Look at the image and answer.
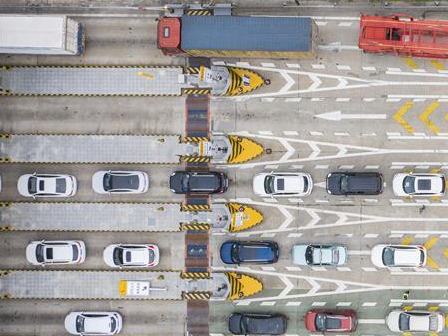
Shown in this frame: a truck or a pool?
truck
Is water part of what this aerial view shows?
No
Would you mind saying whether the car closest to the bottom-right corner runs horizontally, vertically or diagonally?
horizontally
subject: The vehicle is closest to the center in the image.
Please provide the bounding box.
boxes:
[170,168,227,196]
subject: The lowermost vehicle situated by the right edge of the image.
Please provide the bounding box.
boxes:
[387,308,445,335]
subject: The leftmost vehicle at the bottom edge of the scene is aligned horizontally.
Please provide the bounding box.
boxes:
[66,310,122,336]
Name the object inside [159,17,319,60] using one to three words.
truck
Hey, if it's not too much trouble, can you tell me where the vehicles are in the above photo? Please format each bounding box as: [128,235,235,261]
[327,169,383,197]
[293,242,347,268]
[229,311,286,336]
[220,238,278,267]
[170,168,227,196]
[94,168,148,195]
[0,18,86,58]
[27,239,87,267]
[66,310,122,336]
[387,308,445,335]
[393,170,445,197]
[105,241,159,268]
[306,308,358,335]
[254,170,312,198]
[372,241,427,269]
[159,17,319,60]
[20,172,77,199]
